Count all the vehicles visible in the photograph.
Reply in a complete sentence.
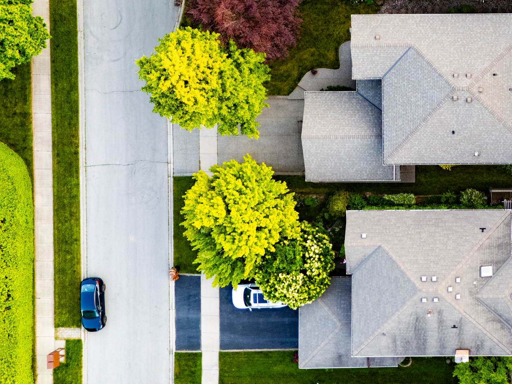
The picture shows 2 vehicles.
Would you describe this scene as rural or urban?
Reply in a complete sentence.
The area is urban.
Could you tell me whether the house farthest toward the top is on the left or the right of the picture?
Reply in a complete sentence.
The house farthest toward the top sits on the right side.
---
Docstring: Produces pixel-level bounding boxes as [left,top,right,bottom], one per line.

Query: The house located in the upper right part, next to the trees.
[302,12,512,183]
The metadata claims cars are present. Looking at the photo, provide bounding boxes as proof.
[233,283,289,311]
[79,275,110,329]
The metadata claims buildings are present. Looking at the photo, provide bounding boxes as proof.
[302,12,512,183]
[298,205,512,370]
